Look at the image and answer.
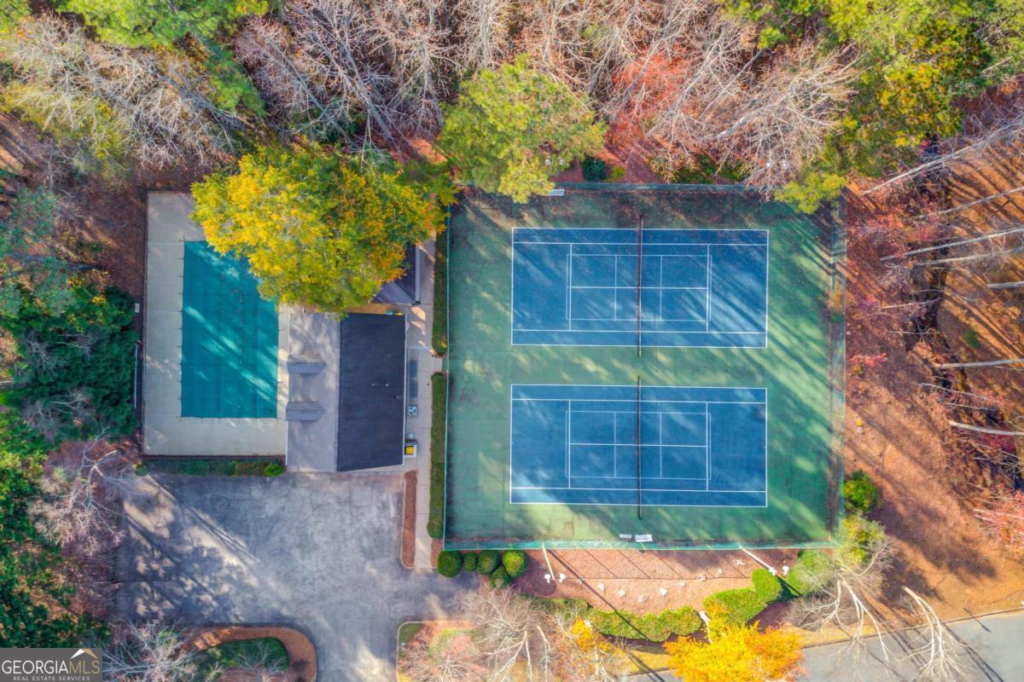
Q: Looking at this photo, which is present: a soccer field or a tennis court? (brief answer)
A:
tennis court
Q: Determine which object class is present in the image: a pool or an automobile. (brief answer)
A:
pool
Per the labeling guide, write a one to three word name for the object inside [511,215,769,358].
tennis court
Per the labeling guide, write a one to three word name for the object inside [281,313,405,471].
building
